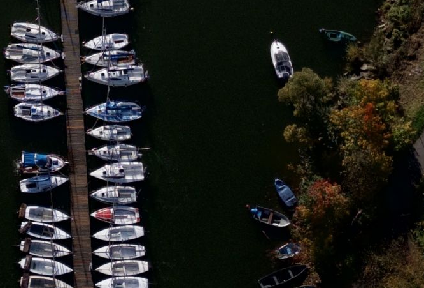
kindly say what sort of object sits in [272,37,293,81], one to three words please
boat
